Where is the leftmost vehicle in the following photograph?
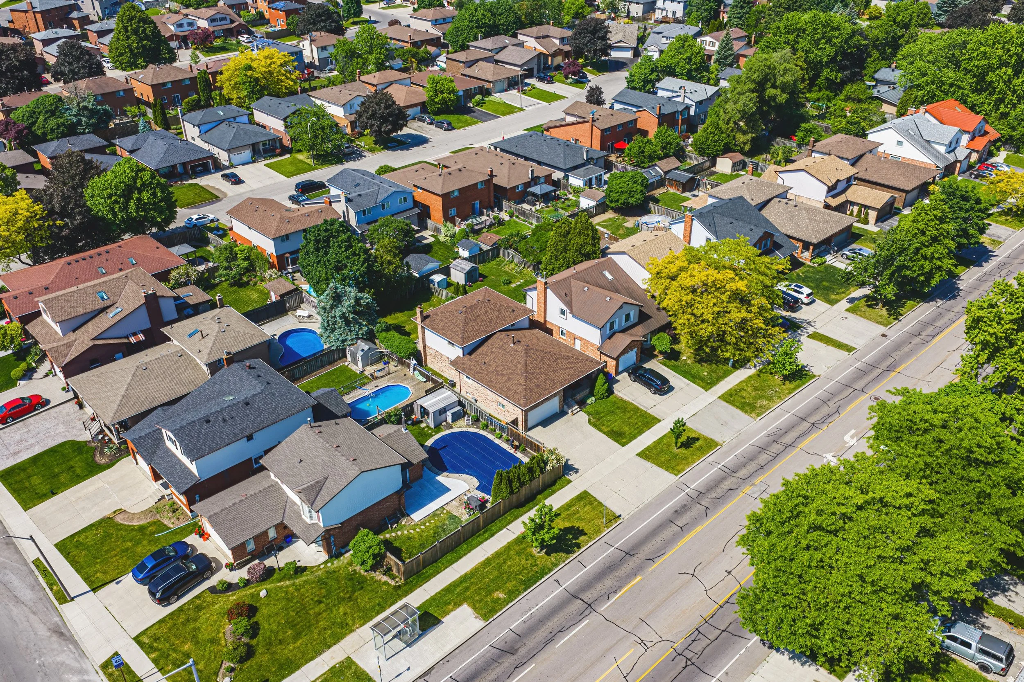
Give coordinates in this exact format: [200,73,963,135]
[0,390,47,423]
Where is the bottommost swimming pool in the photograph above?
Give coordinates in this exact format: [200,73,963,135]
[420,423,532,505]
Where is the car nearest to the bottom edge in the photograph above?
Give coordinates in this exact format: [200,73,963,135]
[925,611,1024,679]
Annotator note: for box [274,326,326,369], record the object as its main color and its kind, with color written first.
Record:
blue swimming pool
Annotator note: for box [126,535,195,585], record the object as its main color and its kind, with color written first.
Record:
blue car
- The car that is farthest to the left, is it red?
Yes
